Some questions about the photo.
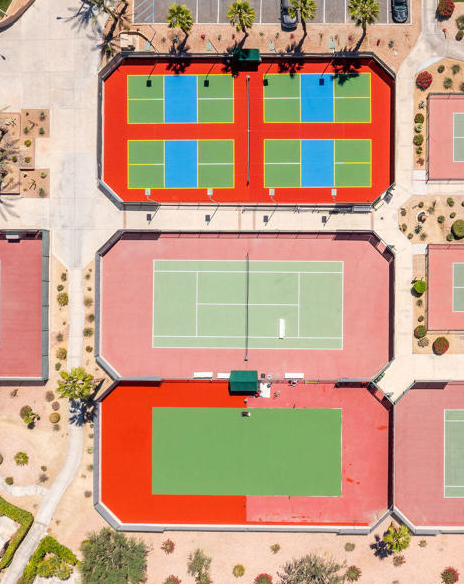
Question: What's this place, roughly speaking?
sports ground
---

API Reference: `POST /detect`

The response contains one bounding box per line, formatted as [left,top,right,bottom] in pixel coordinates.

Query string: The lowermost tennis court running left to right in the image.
[100,380,392,525]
